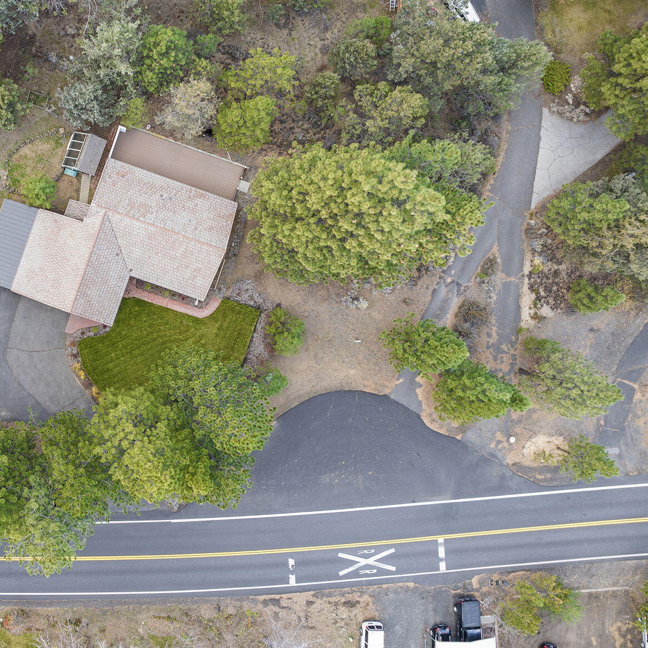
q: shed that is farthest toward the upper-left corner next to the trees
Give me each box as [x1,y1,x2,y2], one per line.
[61,131,106,180]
